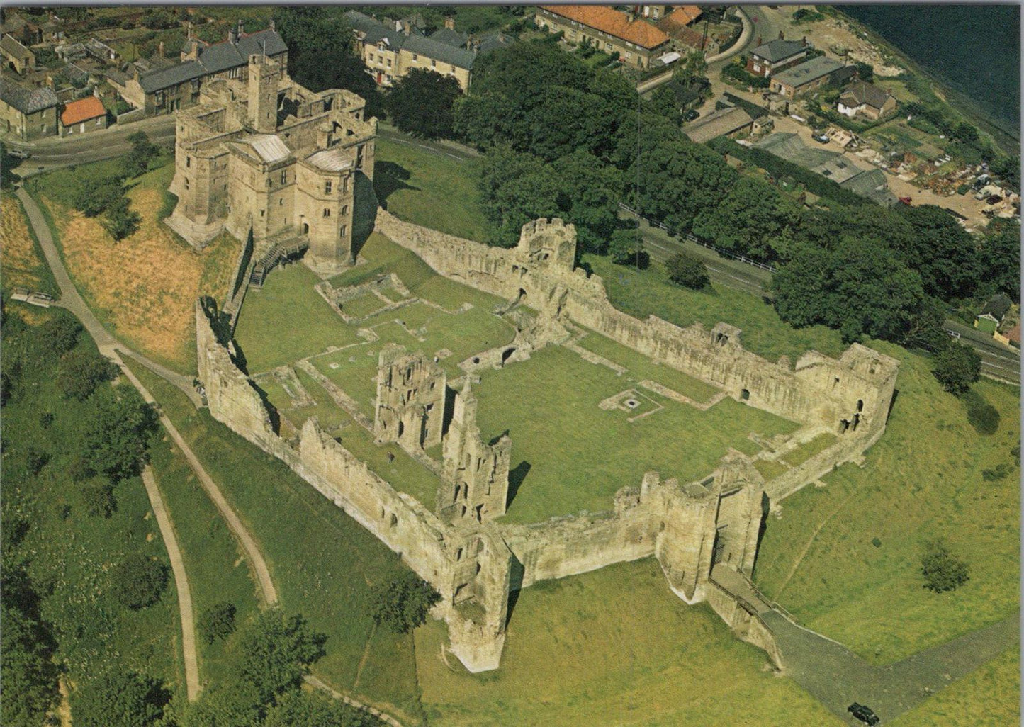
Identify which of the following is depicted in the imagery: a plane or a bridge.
bridge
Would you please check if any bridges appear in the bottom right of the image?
Yes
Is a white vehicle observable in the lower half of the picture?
No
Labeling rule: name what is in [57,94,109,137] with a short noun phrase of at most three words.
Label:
house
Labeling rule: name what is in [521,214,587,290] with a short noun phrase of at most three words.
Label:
building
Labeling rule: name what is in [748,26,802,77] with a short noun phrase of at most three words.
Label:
house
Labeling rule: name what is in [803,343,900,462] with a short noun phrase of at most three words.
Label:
building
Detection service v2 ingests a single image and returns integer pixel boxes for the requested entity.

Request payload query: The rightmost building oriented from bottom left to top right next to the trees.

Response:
[975,287,1020,334]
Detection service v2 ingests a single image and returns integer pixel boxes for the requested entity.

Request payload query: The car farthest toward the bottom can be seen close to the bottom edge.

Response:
[846,697,883,726]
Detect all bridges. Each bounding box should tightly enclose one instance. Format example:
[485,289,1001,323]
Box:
[705,559,856,669]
